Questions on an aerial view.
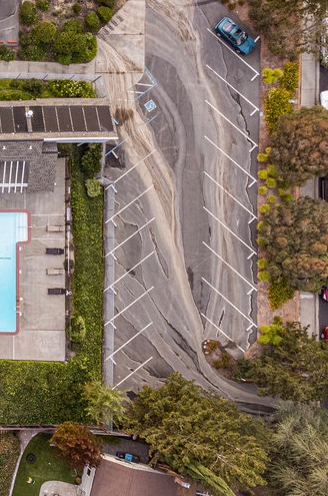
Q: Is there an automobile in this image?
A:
Yes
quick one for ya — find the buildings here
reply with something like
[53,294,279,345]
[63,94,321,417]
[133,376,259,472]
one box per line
[82,455,192,496]
[0,98,118,193]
